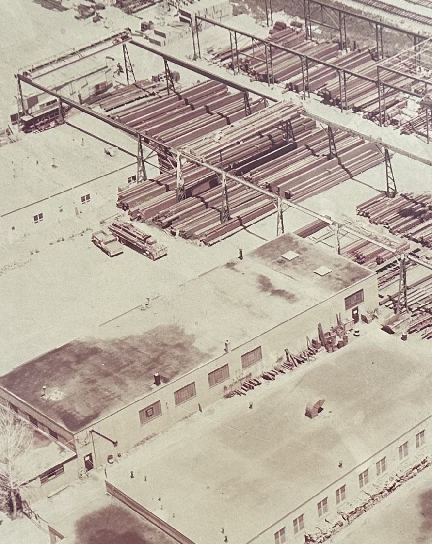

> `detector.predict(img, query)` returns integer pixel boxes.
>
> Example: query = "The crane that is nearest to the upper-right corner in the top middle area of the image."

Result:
[175,94,303,162]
